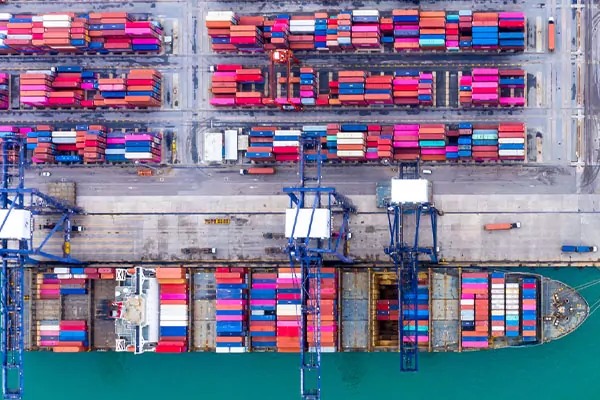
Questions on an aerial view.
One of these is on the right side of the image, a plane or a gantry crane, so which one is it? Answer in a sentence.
Looking on the right side of the image, you will find a gantry crane.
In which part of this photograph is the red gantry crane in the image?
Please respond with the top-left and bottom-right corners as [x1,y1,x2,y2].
[269,45,304,114]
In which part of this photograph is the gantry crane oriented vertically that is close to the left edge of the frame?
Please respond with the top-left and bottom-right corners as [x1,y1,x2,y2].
[0,138,84,400]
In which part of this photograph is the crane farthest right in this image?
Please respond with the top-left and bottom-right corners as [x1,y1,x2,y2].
[384,162,444,374]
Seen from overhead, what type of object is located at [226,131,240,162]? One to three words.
shed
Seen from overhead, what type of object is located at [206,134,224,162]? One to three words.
shed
